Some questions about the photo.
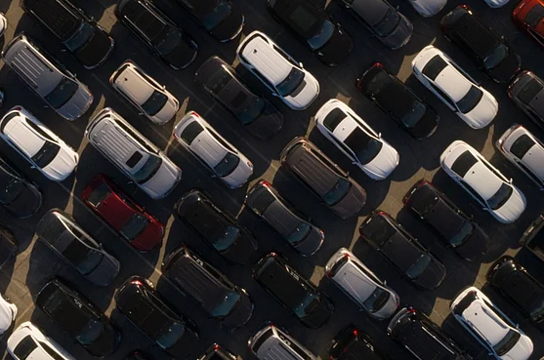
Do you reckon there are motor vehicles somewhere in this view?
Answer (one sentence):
Yes, there is a motor vehicle in the image.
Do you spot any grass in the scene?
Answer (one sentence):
No, the scene doesn't show any grass.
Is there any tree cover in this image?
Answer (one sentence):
No, no tree cover is visible.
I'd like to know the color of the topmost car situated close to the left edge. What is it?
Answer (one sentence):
The topmost car situated close to the left edge looks black in the image.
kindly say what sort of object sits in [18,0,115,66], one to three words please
car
